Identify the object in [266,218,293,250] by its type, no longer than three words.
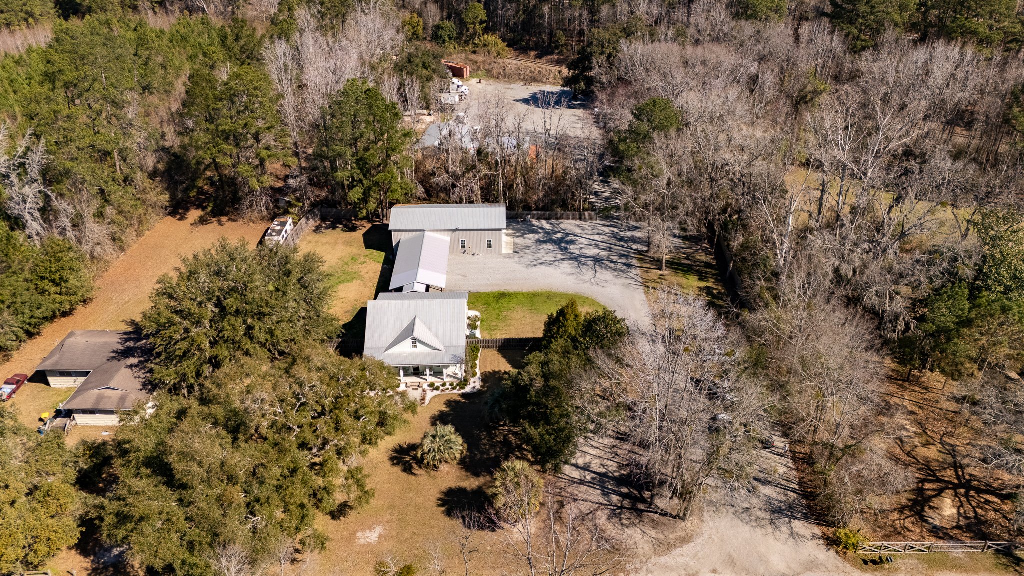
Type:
vehicle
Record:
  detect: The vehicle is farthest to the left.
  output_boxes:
[0,371,31,403]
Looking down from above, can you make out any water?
No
